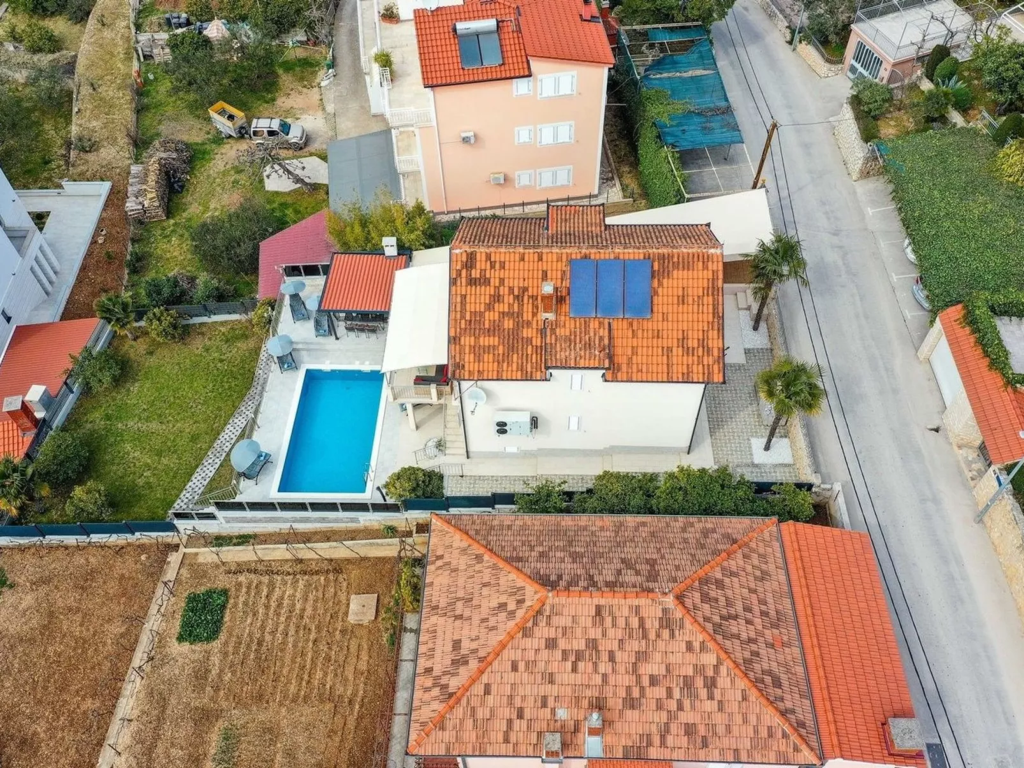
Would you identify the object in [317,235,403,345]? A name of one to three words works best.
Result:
building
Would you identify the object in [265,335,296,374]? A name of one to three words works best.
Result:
umbrella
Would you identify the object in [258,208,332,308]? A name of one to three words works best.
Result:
shed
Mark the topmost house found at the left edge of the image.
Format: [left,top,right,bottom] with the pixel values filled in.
[0,177,66,316]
